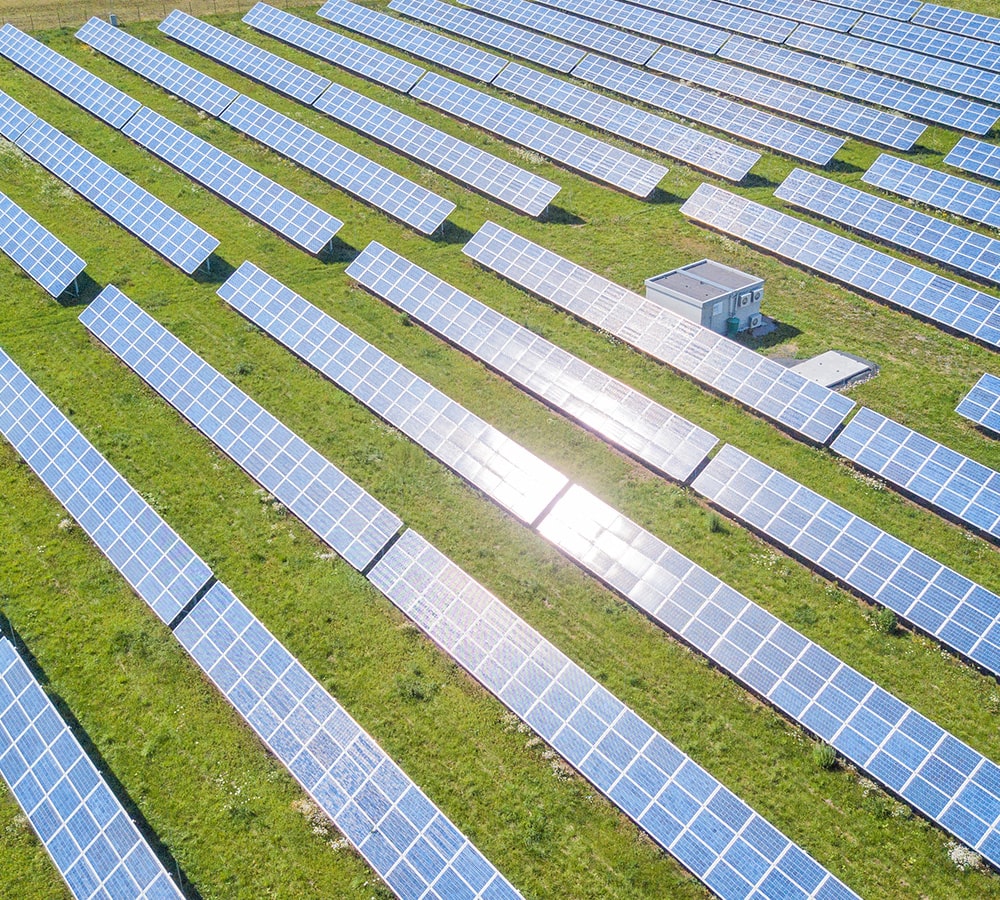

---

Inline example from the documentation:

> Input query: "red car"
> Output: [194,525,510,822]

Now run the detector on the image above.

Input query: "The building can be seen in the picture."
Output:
[646,258,765,338]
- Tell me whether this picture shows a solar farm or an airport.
solar farm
